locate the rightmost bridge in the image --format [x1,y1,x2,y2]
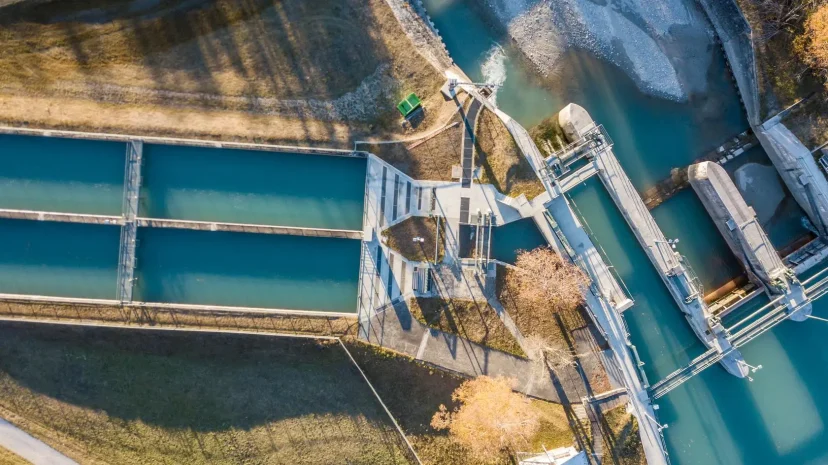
[648,268,828,411]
